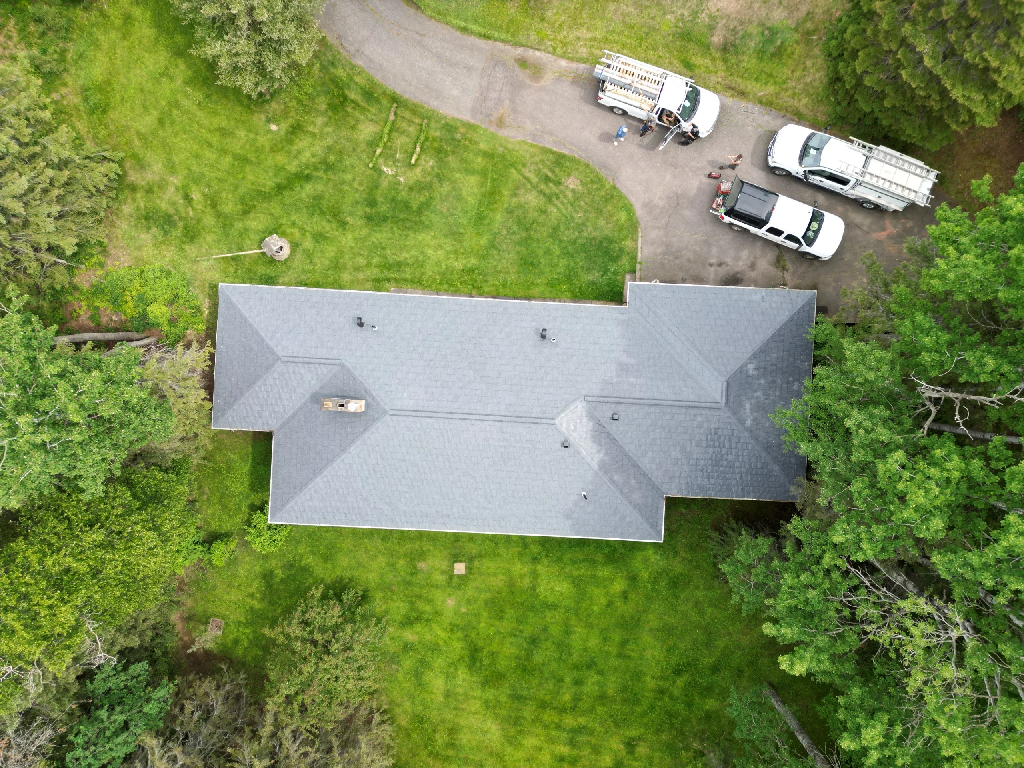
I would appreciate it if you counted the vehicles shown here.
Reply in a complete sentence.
The photo contains 3 vehicles.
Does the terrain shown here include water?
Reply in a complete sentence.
No, no water is visible.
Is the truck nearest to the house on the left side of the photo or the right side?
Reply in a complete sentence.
It is on the right.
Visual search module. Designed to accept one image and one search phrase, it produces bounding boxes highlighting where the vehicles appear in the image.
[707,170,843,263]
[594,52,720,151]
[763,124,935,217]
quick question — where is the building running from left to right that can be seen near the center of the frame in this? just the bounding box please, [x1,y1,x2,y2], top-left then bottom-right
[210,280,818,544]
